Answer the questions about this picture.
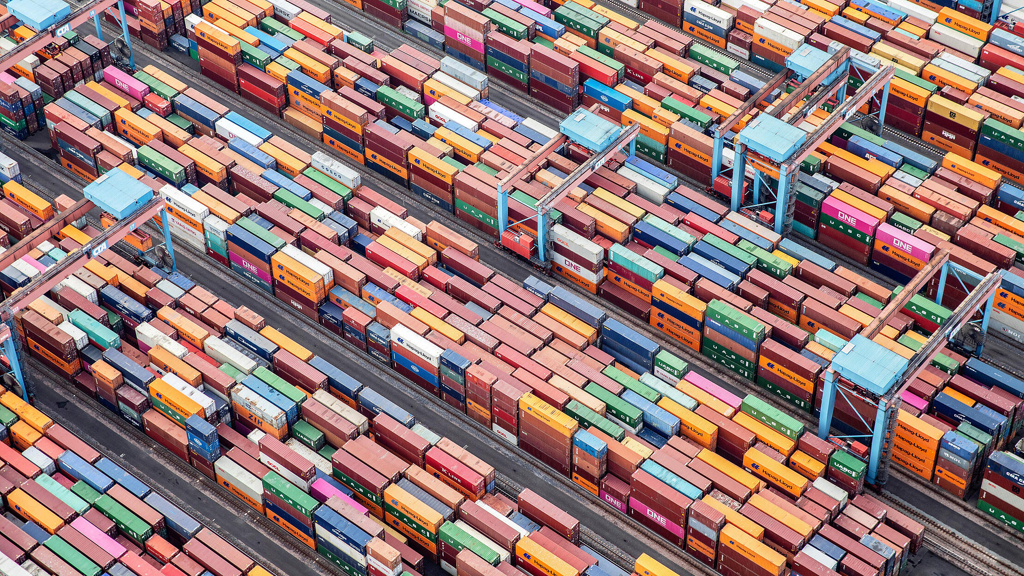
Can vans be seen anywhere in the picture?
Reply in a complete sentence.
No, there appears to be no van in this shot.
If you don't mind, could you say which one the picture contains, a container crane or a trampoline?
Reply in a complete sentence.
I can see a container crane in this picture.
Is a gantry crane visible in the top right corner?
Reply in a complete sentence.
Yes, a gantry crane is visible in the top right corner.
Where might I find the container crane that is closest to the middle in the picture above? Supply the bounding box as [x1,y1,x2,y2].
[494,97,643,275]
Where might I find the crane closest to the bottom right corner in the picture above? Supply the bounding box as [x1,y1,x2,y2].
[818,244,1006,491]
